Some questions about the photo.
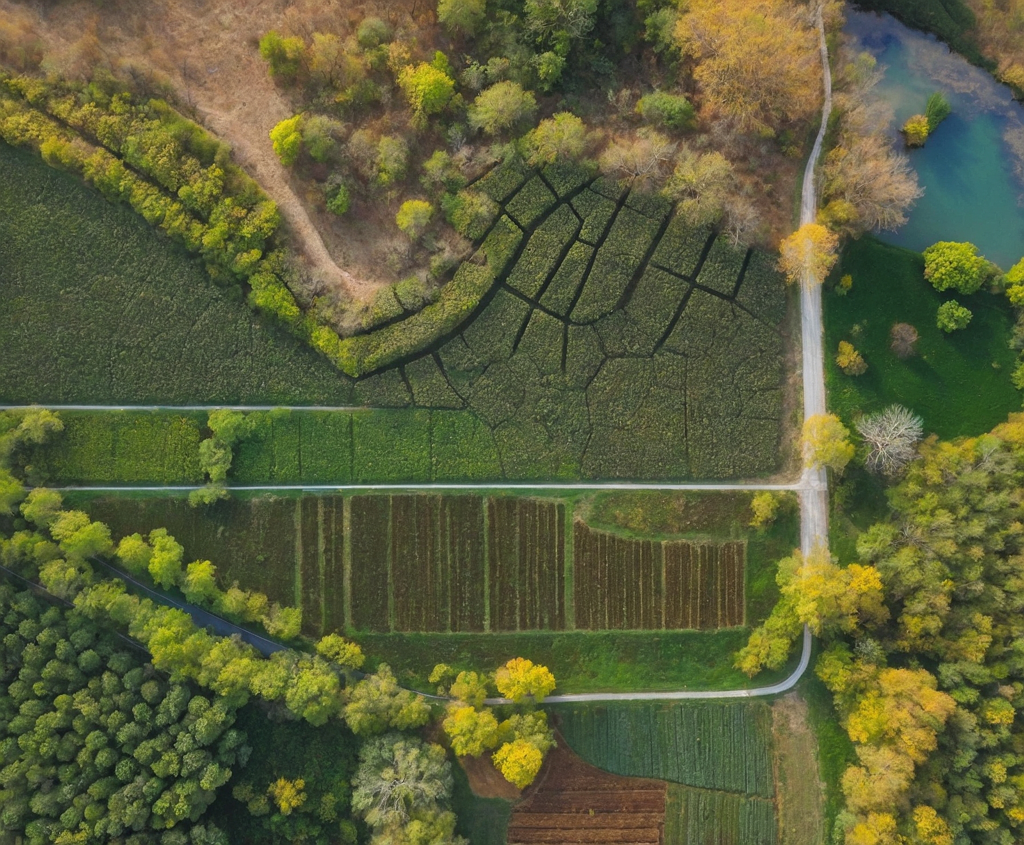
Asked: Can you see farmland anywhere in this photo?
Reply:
Yes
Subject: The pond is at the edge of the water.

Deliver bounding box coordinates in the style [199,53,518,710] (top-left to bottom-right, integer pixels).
[843,9,1024,266]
